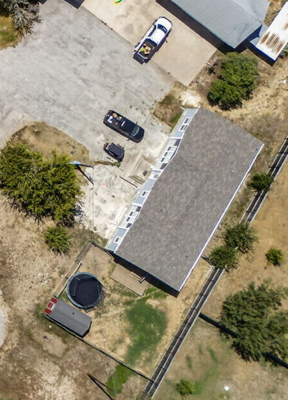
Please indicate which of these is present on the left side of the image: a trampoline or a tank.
trampoline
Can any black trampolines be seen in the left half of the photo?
Yes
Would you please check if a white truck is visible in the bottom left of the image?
No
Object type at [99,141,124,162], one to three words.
vehicle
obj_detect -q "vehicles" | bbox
[99,141,124,162]
[100,111,145,142]
[131,14,171,61]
